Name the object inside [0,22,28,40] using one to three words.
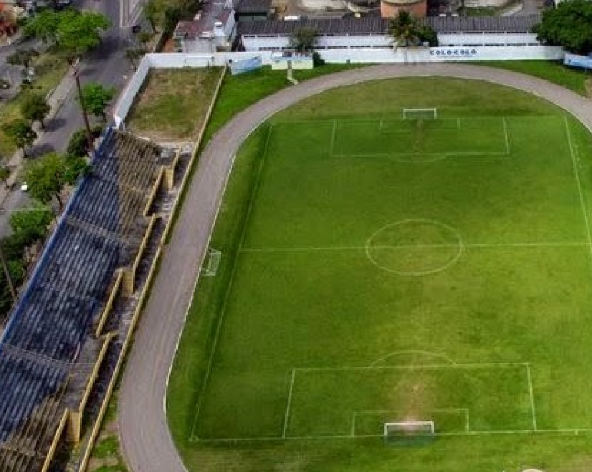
house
